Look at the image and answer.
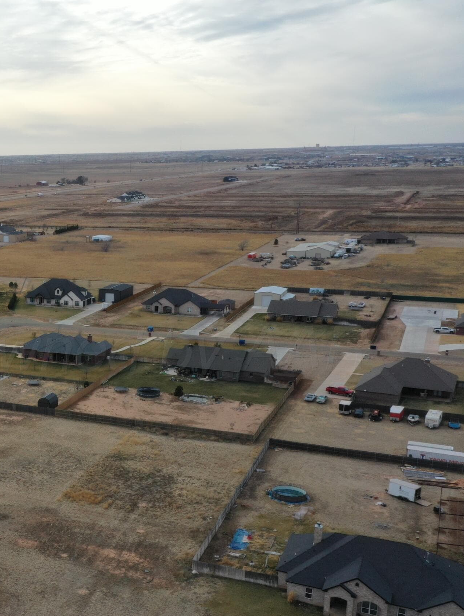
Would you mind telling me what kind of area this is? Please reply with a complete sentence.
What you see here is a residential area.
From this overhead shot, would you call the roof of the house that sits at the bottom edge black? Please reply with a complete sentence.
Yes, the roof of the house that sits at the bottom edge appears black.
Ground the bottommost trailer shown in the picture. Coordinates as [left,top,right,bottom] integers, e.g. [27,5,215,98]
[381,472,434,503]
